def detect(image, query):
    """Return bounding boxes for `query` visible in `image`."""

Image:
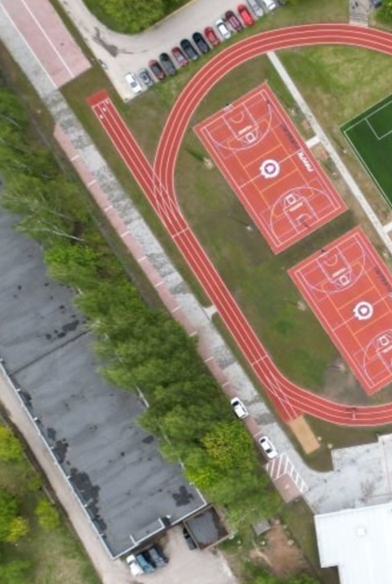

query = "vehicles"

[125,552,145,576]
[247,0,265,19]
[204,26,222,46]
[181,529,198,550]
[148,546,168,569]
[191,32,212,53]
[135,551,157,575]
[180,38,201,61]
[139,68,154,87]
[172,46,189,67]
[238,3,256,26]
[124,72,143,94]
[159,52,178,74]
[224,9,244,32]
[149,60,167,79]
[232,398,248,418]
[215,18,232,38]
[259,435,277,459]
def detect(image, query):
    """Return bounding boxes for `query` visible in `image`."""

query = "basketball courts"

[193,82,348,255]
[288,225,392,397]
